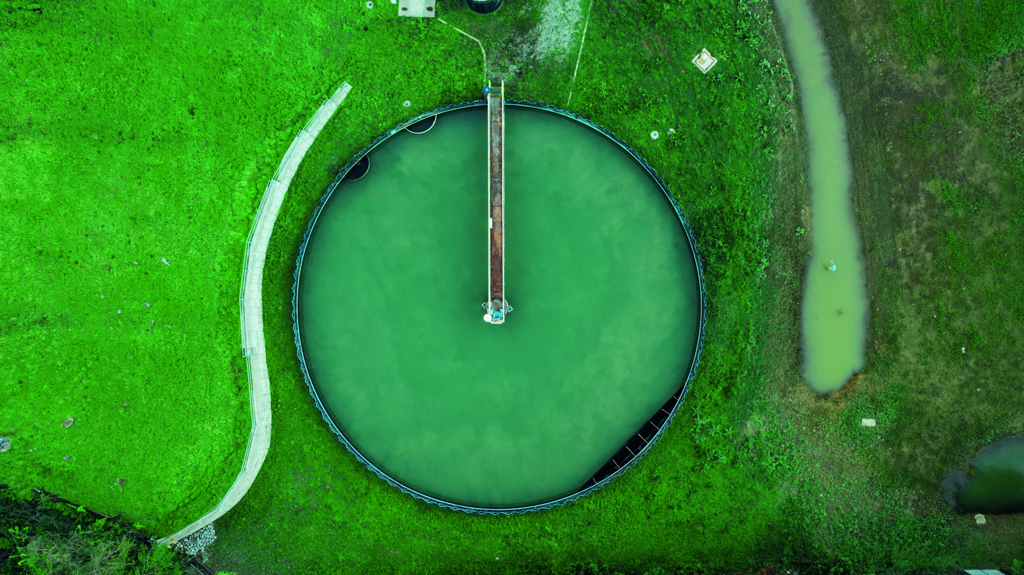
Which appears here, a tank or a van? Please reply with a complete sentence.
There is a tank in the scene.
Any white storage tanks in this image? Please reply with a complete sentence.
No, there isn't any white storage tank down there.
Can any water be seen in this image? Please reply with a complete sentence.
Yes, the picture does contain water.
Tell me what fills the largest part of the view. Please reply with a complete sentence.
For the most part, this view shows grass.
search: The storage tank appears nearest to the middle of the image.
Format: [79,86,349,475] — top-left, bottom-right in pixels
[290,97,708,516]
